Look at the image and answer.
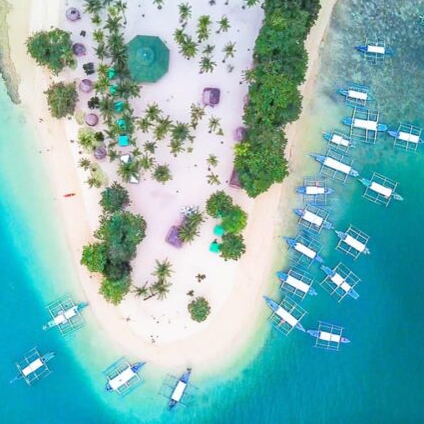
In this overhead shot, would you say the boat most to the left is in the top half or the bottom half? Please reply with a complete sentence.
The bottom half of the photo is where the boat most to the left is.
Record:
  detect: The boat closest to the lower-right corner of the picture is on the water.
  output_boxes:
[308,320,351,351]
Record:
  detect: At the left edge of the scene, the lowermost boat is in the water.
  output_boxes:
[9,346,55,385]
